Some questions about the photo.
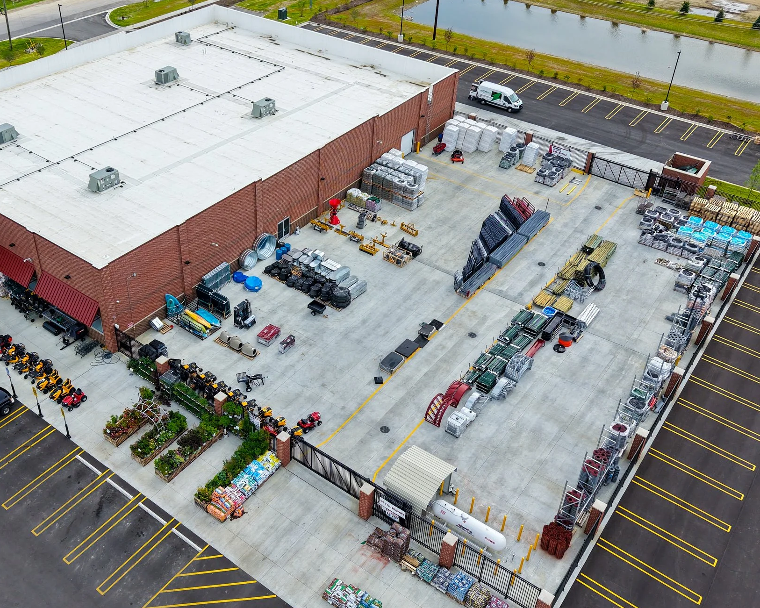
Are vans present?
Yes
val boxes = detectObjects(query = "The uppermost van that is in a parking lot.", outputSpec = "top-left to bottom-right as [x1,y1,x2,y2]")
[462,74,519,111]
